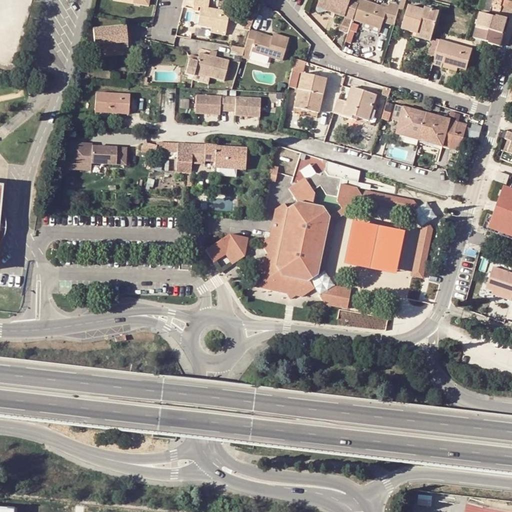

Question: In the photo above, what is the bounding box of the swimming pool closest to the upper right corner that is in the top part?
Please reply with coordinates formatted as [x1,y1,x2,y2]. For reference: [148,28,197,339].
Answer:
[384,144,418,164]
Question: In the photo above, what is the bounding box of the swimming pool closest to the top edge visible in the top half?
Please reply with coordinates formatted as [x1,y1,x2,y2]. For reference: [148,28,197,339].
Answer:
[181,8,194,24]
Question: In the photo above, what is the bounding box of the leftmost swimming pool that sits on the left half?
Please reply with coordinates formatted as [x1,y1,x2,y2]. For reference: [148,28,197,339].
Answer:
[149,66,181,82]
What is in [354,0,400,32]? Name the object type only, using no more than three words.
house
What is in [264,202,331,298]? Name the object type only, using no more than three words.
building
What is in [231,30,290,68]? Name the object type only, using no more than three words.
house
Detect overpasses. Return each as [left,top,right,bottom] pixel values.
[0,358,512,476]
